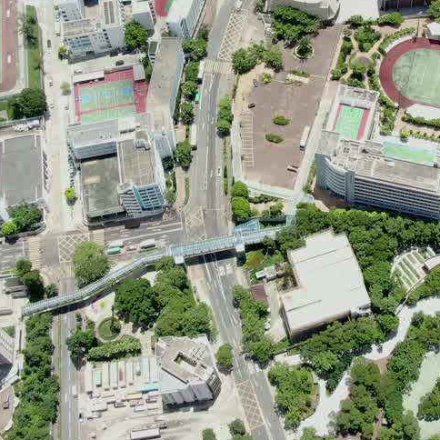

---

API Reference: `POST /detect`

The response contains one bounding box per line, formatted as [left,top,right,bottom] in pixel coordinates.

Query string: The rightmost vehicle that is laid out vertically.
[299,122,312,149]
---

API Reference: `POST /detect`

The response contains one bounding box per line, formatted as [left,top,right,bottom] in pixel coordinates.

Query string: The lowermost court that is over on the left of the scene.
[75,66,148,126]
